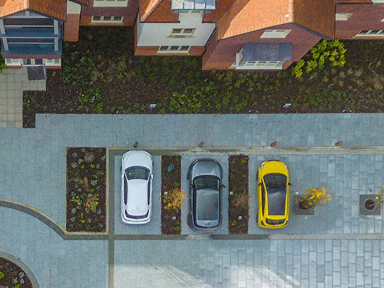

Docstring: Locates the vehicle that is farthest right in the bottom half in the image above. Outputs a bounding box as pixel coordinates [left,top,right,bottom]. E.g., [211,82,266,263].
[254,161,294,228]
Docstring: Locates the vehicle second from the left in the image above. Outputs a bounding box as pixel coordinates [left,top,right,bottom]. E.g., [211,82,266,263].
[185,159,226,232]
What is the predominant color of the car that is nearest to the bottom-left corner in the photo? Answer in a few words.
white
